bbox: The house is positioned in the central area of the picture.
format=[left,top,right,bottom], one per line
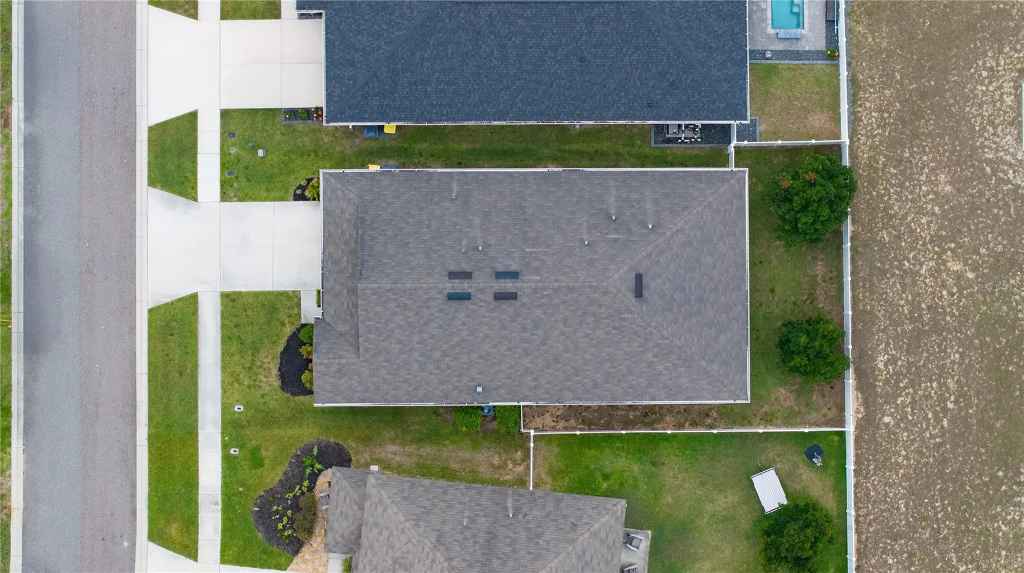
[312,168,750,407]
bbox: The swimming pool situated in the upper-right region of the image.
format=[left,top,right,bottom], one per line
[768,0,808,33]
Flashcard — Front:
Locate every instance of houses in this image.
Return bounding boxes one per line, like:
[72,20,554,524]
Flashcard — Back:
[312,168,750,407]
[324,467,626,573]
[296,0,749,124]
